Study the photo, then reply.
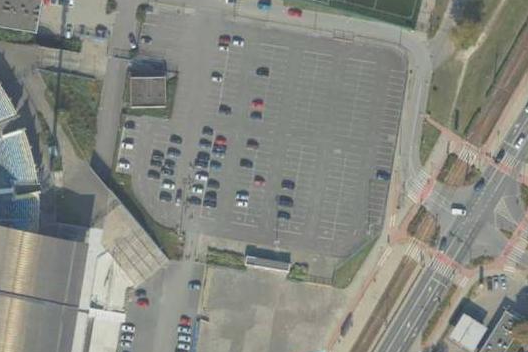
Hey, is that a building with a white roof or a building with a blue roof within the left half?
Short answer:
building with a white roof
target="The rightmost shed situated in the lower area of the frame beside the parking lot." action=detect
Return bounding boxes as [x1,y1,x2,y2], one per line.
[246,257,289,273]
